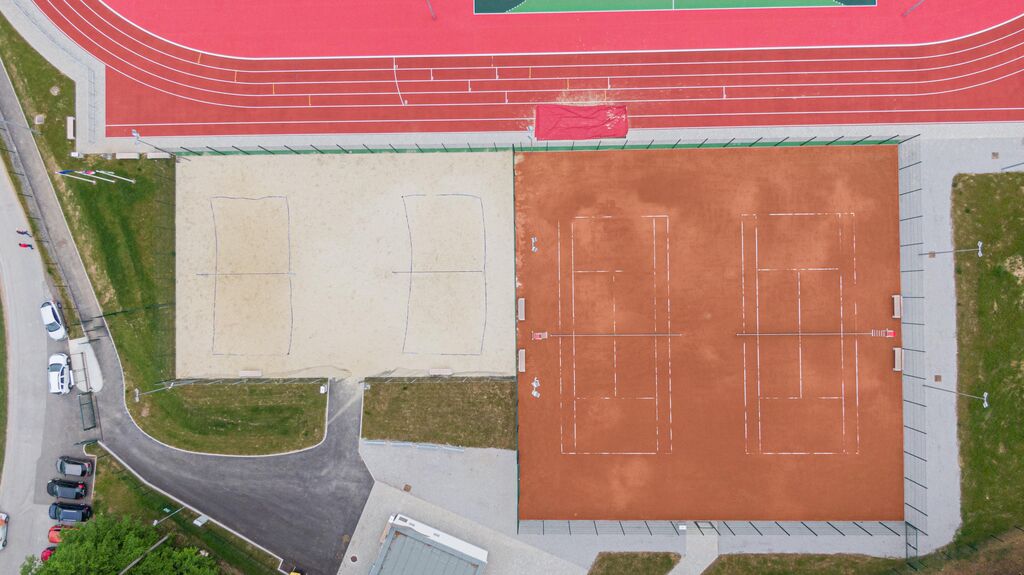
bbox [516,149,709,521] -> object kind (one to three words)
tennis court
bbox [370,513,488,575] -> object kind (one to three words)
building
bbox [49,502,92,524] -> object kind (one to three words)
car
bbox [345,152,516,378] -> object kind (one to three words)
sports court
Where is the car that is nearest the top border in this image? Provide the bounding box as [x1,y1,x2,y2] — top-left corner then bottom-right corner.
[38,301,68,342]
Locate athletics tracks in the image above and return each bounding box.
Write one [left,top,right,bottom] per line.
[32,0,1024,137]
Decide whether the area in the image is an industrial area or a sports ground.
sports ground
